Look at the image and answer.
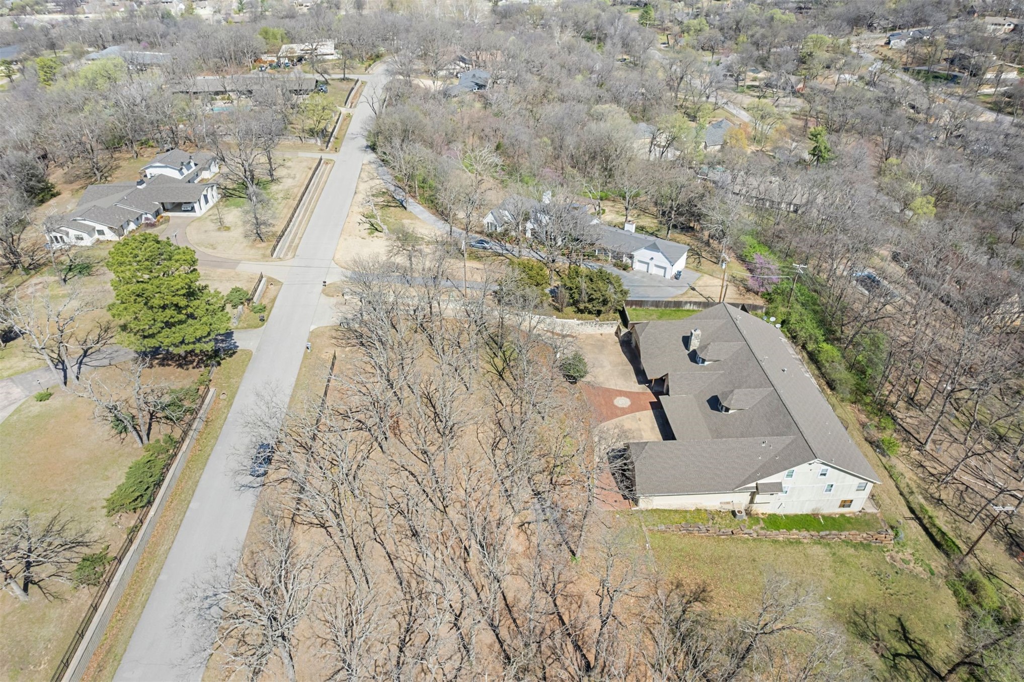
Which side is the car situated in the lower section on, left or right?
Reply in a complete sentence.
The car situated in the lower section appears in the left half of the scene.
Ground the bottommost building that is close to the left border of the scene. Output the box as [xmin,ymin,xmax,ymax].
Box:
[29,147,227,248]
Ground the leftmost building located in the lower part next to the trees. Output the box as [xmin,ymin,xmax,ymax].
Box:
[620,301,882,520]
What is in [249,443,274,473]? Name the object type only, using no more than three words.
car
